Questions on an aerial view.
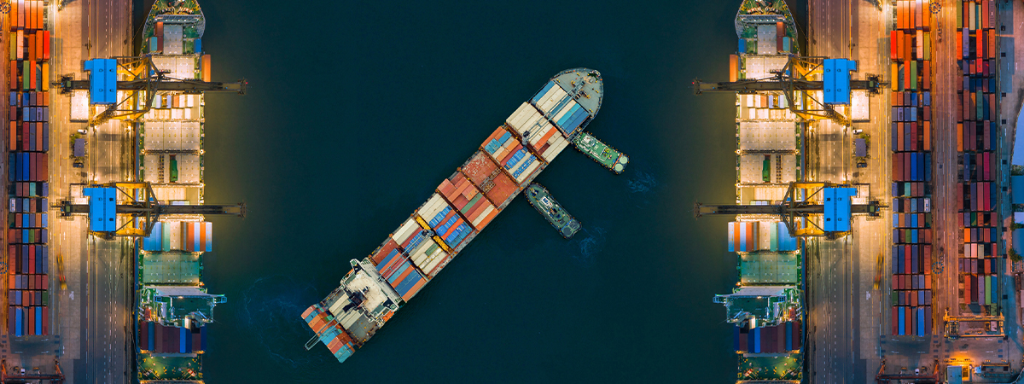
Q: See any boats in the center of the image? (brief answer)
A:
Yes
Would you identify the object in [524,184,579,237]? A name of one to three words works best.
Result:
boat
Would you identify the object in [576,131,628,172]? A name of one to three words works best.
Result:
boat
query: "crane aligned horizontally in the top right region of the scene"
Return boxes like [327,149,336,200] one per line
[695,50,889,125]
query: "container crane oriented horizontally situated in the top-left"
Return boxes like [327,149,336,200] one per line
[52,50,247,125]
